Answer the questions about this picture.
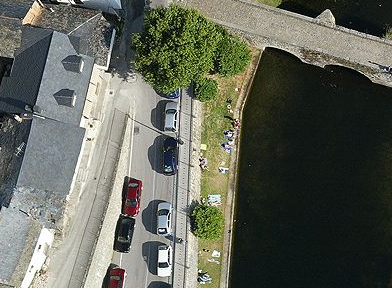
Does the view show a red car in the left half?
Yes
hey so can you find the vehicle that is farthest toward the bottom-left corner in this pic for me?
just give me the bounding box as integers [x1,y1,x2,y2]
[105,265,126,288]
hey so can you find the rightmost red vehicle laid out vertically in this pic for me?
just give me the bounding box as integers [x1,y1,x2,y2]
[122,177,142,215]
